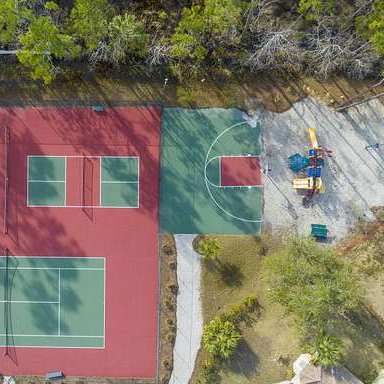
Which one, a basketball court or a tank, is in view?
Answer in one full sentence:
Looking from above, you can make out a basketball court.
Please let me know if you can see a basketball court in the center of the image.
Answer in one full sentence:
Yes, a basketball court is visible in the center of the image.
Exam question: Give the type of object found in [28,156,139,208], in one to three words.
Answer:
sports court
